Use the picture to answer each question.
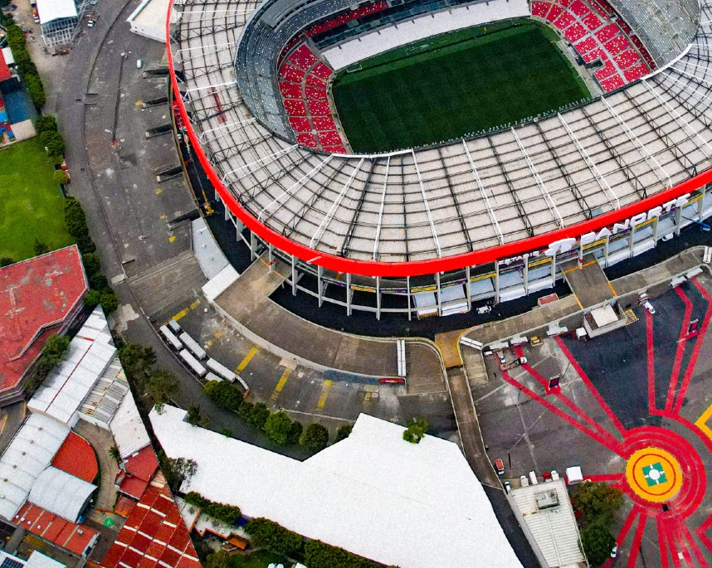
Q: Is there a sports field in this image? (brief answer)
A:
Yes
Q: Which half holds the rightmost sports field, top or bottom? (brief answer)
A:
top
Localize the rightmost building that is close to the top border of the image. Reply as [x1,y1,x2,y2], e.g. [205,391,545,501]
[128,0,181,55]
